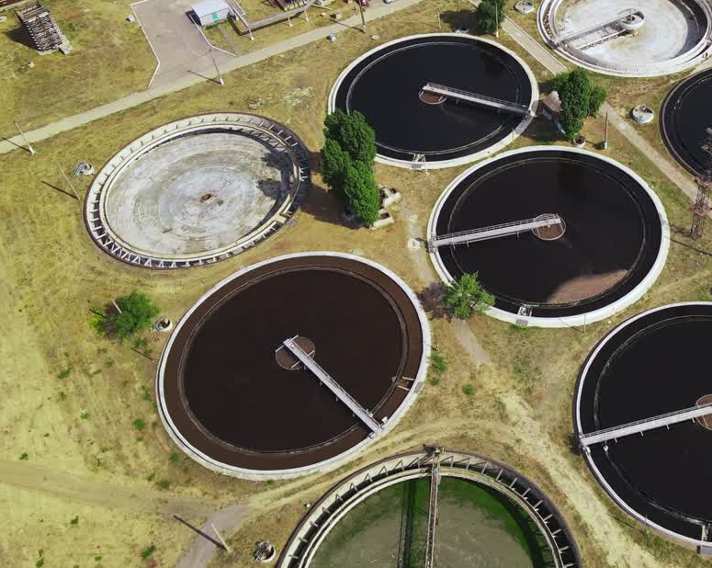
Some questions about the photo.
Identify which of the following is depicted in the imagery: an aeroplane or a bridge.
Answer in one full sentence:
The image shows a bridge.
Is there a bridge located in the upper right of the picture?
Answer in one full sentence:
Yes, a bridge appears in the upper right of the picture.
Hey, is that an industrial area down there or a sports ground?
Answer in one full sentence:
It's an industrial area.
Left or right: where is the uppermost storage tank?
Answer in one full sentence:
The uppermost storage tank sits on the right side.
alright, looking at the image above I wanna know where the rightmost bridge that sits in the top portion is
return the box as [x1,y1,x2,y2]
[555,7,639,53]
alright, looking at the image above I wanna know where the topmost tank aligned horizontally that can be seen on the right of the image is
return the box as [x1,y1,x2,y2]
[537,0,712,81]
